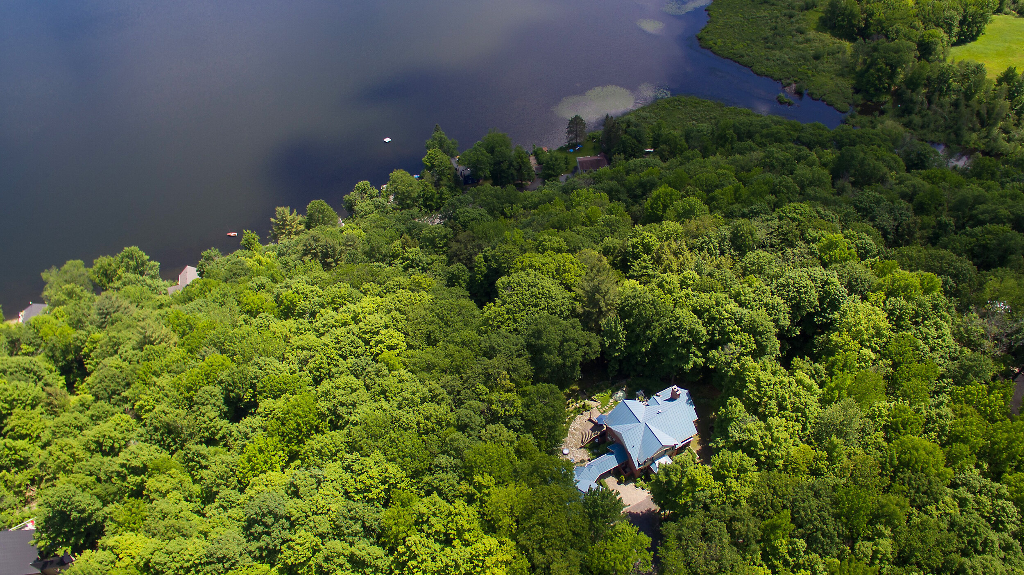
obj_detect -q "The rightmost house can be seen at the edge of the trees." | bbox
[603,384,699,481]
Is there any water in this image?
Yes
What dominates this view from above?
trees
